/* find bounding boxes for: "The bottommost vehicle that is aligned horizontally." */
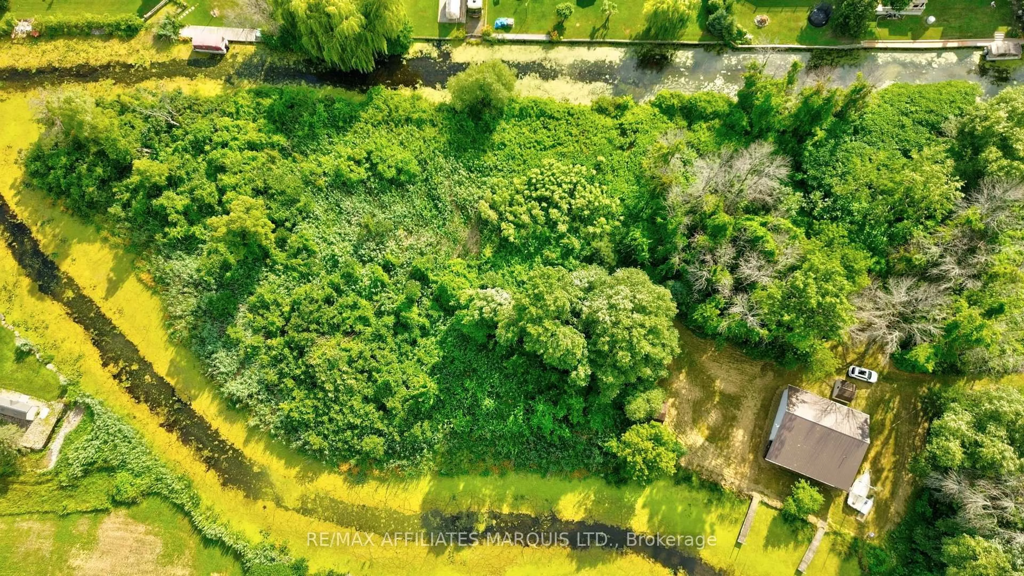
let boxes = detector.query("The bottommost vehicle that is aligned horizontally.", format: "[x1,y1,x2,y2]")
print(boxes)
[849,366,881,384]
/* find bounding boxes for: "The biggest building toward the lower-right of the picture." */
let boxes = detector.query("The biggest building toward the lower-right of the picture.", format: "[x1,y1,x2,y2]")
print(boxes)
[765,383,871,493]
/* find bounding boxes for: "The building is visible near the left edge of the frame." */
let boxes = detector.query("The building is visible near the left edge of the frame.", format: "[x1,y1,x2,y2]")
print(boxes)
[0,385,45,417]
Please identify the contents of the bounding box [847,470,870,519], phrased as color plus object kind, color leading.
white boat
